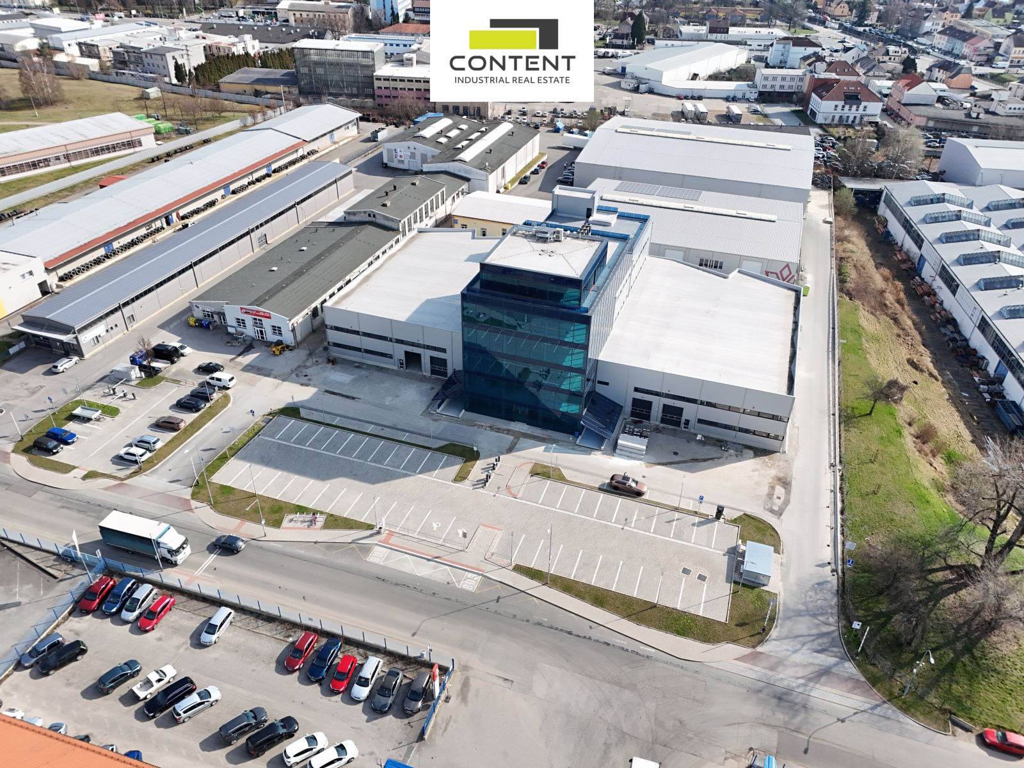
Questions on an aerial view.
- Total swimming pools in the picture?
0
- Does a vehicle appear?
Yes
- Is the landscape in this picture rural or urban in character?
urban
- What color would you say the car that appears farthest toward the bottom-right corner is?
red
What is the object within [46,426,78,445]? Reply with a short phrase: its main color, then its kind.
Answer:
blue car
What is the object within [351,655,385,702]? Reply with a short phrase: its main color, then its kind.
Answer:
white car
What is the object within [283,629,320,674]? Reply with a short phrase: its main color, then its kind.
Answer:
red car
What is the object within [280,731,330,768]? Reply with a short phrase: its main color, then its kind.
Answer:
white car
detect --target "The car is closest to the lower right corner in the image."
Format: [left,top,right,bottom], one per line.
[978,724,1024,766]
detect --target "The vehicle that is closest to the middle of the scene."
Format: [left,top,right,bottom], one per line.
[609,473,646,498]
